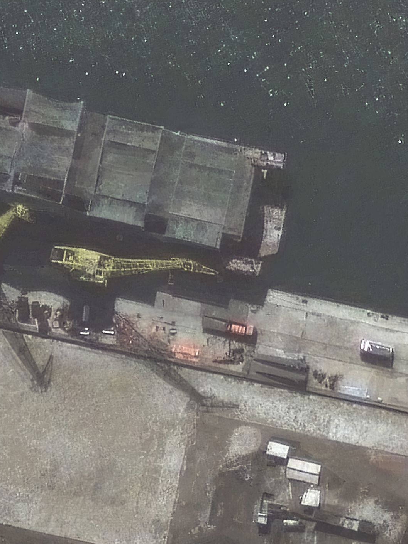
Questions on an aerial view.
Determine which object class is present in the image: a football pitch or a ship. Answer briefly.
ship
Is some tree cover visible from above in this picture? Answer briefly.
No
